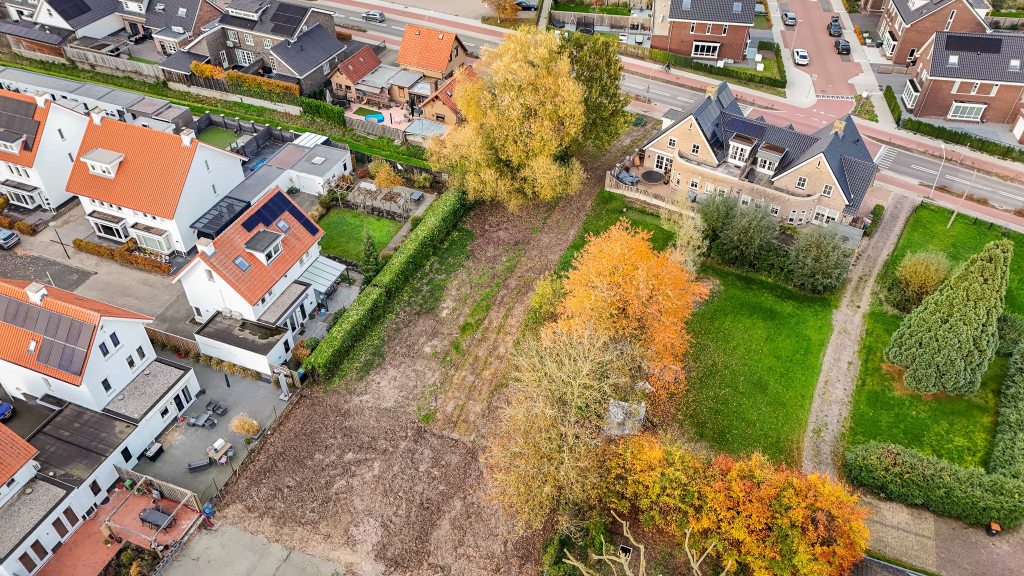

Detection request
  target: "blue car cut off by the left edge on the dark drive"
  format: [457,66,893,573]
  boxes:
[0,396,26,421]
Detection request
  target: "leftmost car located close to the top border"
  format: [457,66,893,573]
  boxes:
[360,10,383,23]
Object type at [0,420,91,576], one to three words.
house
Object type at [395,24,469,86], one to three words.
house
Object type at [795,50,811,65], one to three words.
car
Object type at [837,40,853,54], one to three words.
car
